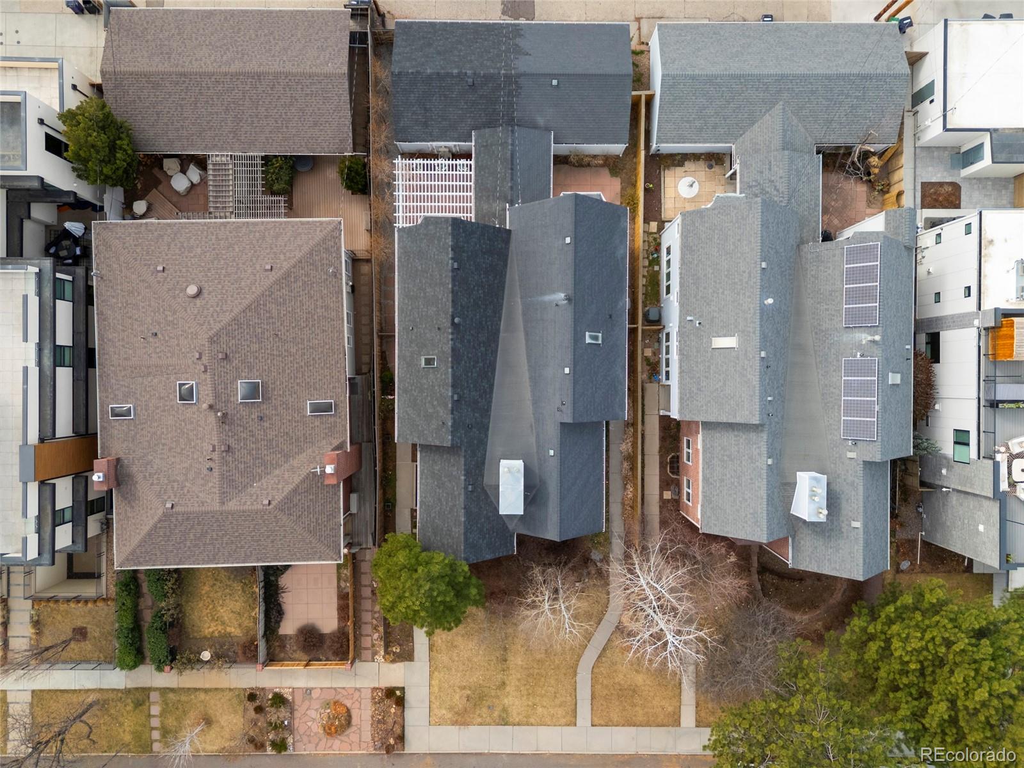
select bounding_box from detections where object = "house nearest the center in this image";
[394,125,630,562]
